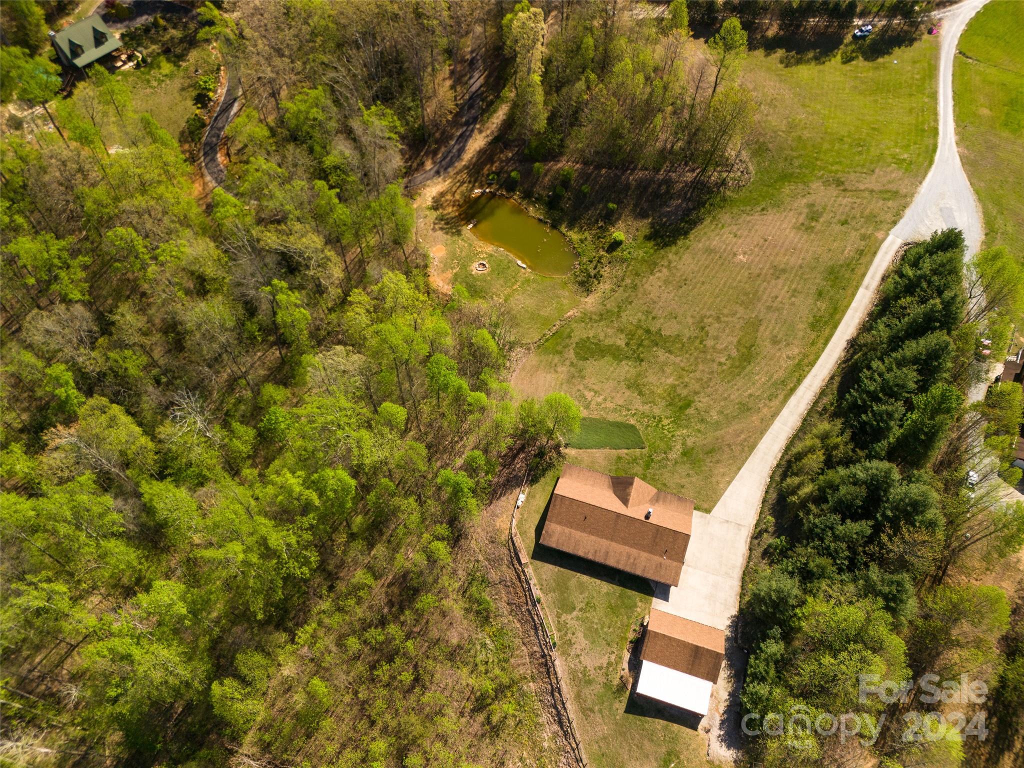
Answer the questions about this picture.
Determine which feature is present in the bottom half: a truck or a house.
house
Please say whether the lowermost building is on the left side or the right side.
right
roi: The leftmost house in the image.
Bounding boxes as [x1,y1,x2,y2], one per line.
[47,15,129,78]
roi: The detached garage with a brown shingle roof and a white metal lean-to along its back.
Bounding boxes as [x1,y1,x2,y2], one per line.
[633,608,725,719]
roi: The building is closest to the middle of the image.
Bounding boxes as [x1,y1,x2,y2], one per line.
[539,463,694,588]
